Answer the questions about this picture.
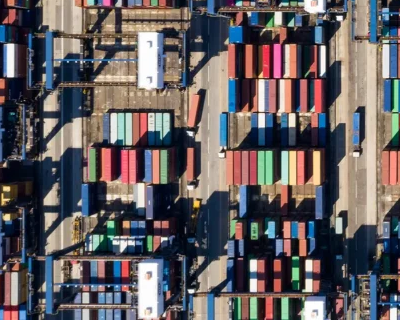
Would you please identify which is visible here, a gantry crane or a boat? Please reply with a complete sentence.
Looking from above, you can make out a gantry crane.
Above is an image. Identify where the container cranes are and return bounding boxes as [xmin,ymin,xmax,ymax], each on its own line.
[189,0,348,26]
[349,0,400,53]
[0,92,30,164]
[0,200,30,267]
[27,233,188,320]
[349,249,400,320]
[27,24,188,96]
[188,266,347,320]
